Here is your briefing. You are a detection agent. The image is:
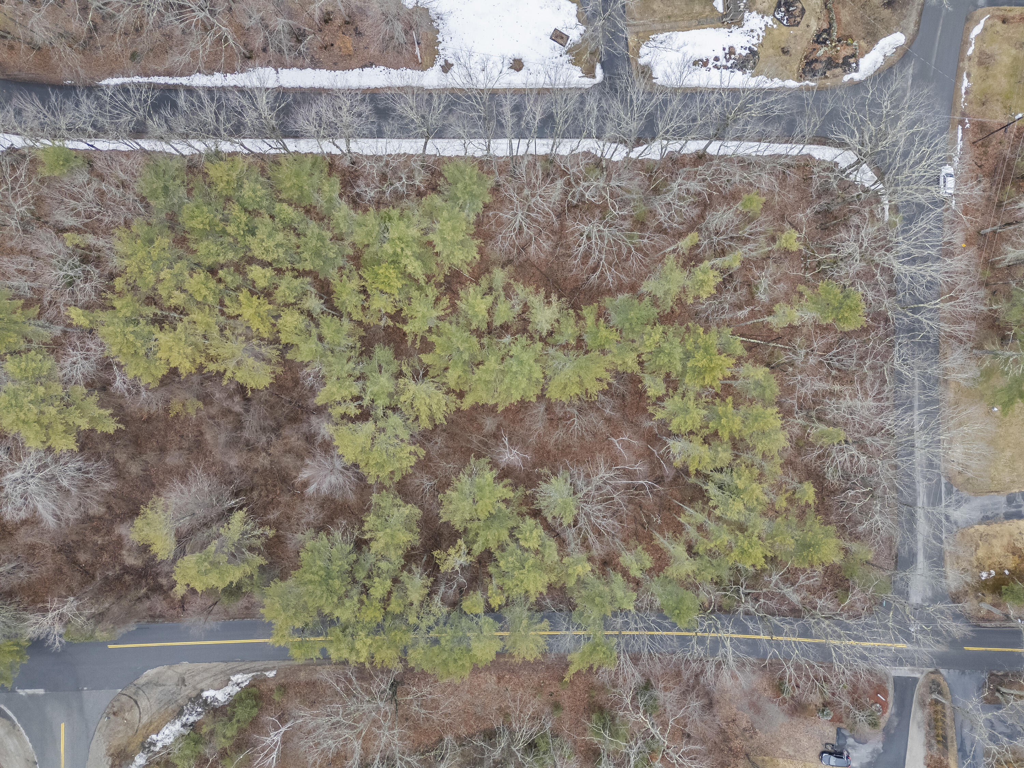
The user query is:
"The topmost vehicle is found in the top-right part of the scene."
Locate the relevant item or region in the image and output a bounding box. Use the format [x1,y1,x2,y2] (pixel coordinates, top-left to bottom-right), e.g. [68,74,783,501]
[940,164,958,195]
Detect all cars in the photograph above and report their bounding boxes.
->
[819,752,851,768]
[940,164,958,195]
